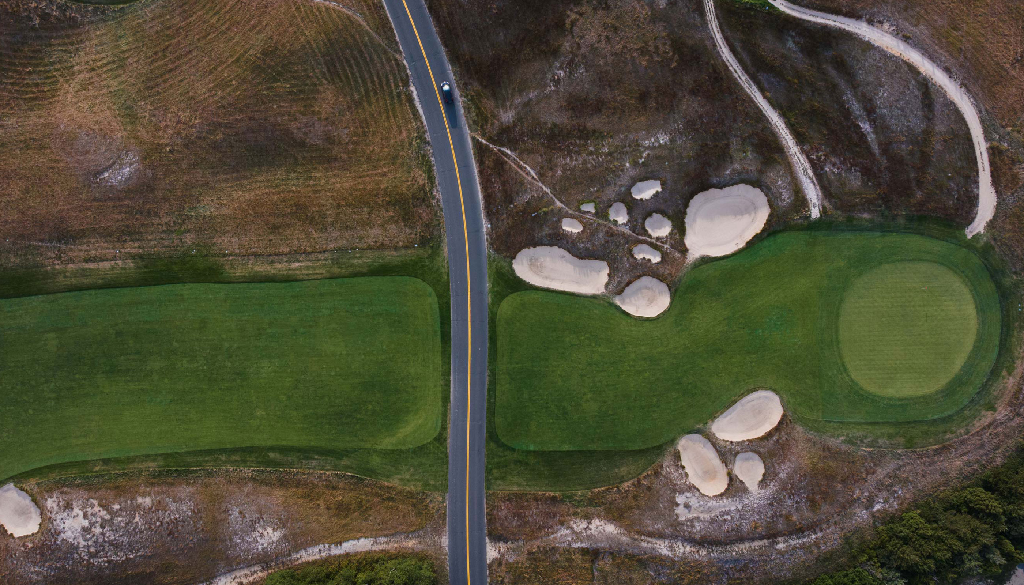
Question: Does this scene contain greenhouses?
No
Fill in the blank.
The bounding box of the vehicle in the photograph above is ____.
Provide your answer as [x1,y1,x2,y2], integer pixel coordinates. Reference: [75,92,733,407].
[441,80,453,103]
